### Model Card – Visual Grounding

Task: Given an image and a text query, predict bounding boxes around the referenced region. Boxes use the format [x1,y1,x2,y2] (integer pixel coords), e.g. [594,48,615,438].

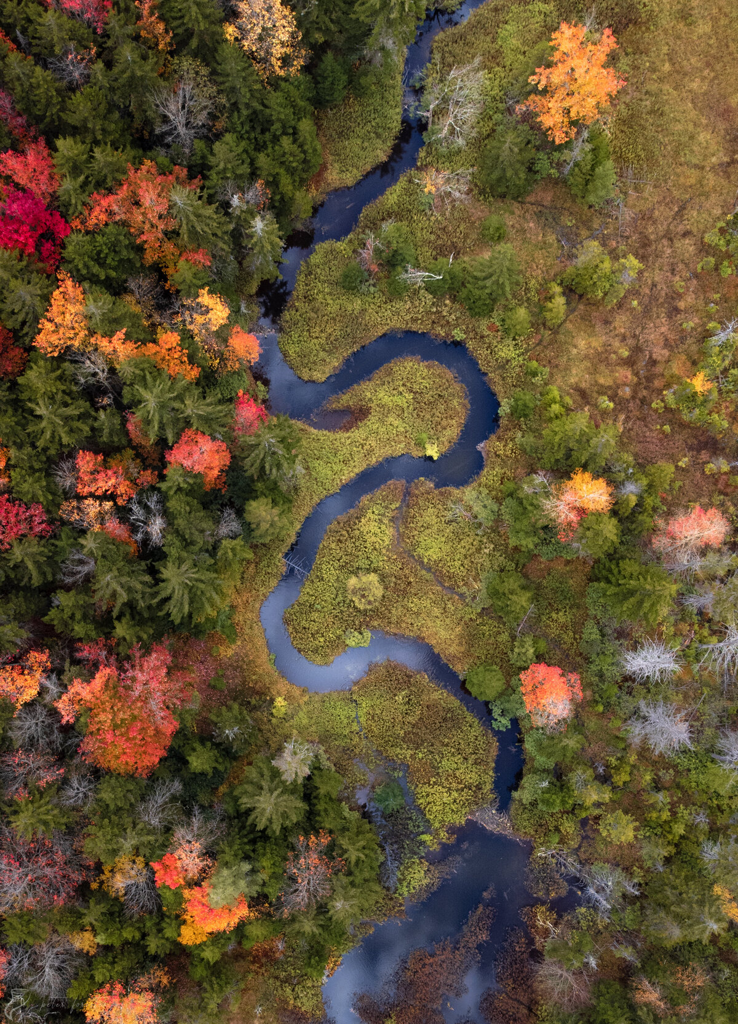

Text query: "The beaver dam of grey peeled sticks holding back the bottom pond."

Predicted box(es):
[470,809,531,846]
